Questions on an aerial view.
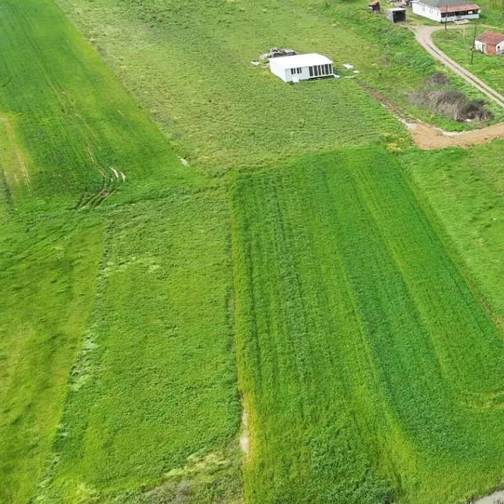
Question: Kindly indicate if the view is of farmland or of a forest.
farmland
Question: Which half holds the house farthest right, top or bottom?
top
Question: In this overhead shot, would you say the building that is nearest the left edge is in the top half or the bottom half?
top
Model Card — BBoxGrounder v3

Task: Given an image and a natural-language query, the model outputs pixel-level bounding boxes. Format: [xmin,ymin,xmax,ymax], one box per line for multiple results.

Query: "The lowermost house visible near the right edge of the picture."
[470,26,504,55]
